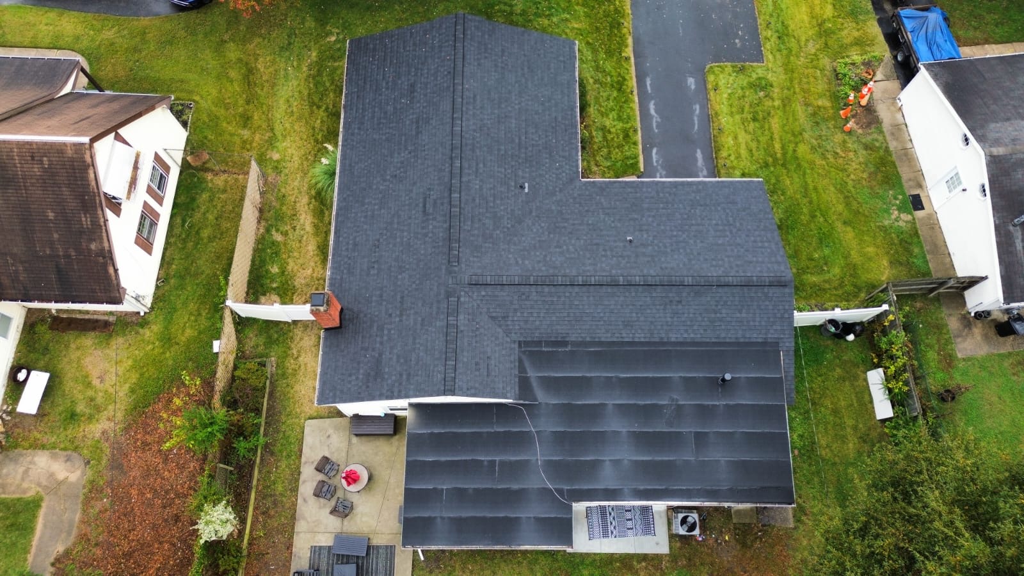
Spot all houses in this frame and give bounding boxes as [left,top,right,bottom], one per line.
[310,13,795,564]
[898,52,1024,323]
[0,55,187,396]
